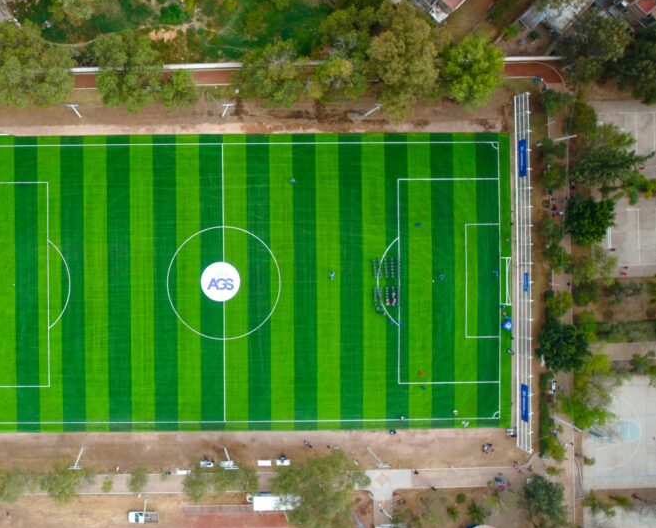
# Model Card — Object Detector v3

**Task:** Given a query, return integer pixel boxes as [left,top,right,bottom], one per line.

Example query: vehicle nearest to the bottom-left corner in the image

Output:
[128,512,158,527]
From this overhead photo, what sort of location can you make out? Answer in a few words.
sports ground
